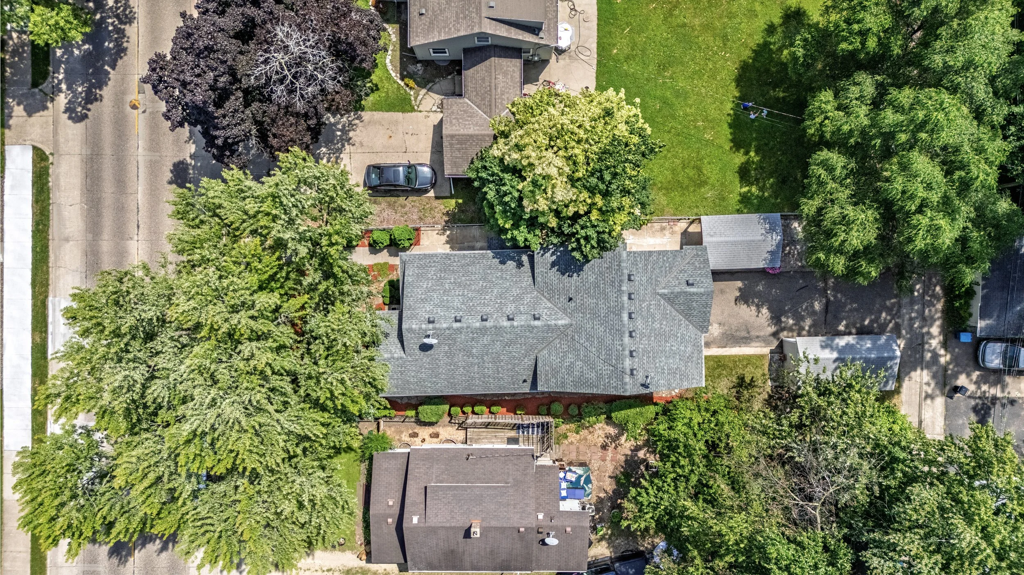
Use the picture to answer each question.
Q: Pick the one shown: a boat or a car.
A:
car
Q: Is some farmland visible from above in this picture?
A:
No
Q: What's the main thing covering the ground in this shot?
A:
trees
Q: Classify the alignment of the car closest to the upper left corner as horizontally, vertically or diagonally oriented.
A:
horizontally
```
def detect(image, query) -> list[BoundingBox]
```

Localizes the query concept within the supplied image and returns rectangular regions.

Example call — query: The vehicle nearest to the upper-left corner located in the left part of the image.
[365,161,437,195]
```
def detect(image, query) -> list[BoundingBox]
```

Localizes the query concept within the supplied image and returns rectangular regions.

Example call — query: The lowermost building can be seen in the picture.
[370,443,589,574]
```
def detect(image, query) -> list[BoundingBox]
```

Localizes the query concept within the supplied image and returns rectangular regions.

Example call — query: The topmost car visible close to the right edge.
[976,338,1024,373]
